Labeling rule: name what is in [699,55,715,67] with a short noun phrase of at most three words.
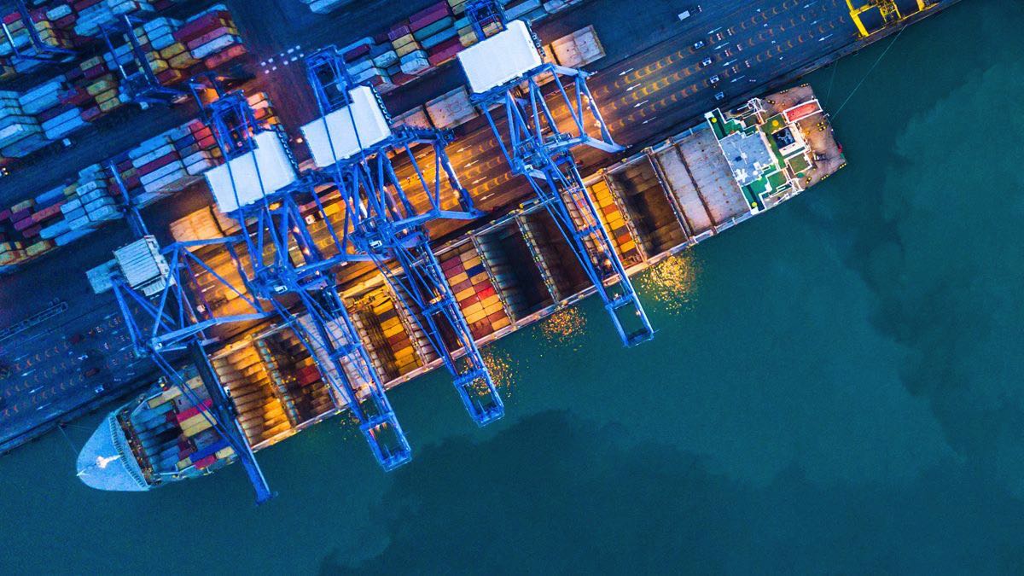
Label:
vehicle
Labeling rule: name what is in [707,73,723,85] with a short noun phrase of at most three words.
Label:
vehicle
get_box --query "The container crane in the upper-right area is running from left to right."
[845,0,940,42]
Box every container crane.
[86,170,290,509]
[206,92,420,470]
[299,49,511,426]
[456,0,655,348]
[845,0,940,42]
[194,80,253,164]
[101,14,195,110]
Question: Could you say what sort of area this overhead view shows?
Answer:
port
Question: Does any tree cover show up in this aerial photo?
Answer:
No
